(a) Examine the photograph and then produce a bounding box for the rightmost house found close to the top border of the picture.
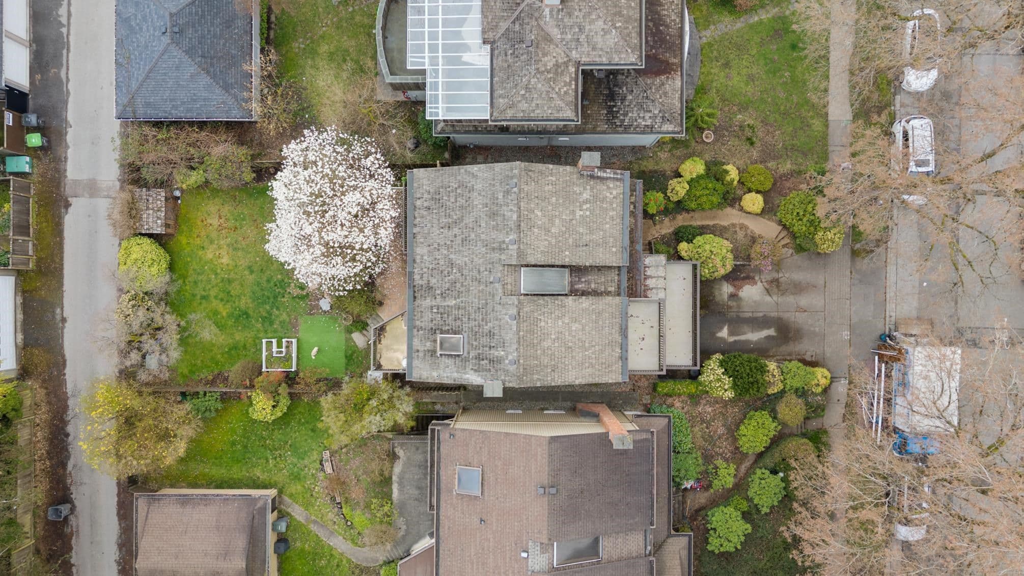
[432,0,689,148]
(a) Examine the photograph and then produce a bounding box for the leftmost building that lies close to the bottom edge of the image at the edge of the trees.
[133,489,278,576]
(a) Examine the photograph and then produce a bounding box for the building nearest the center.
[406,151,643,397]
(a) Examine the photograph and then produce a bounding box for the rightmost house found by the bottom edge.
[434,403,692,576]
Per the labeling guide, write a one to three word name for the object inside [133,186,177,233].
shed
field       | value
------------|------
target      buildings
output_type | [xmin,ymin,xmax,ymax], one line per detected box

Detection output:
[113,0,267,127]
[432,0,689,148]
[406,151,643,397]
[434,403,692,576]
[0,270,18,381]
[133,186,177,233]
[0,0,30,91]
[133,489,278,576]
